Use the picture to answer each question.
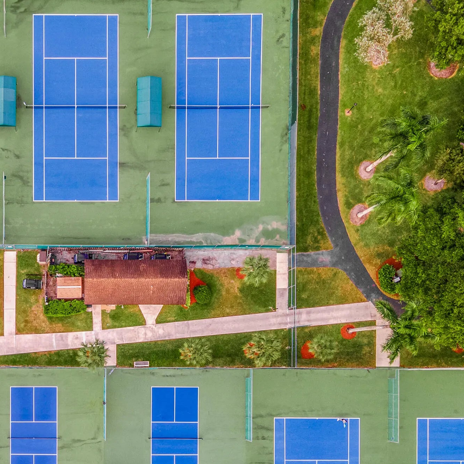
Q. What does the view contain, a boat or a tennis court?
tennis court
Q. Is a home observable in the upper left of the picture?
No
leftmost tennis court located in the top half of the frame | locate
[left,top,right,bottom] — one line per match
[33,14,119,202]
